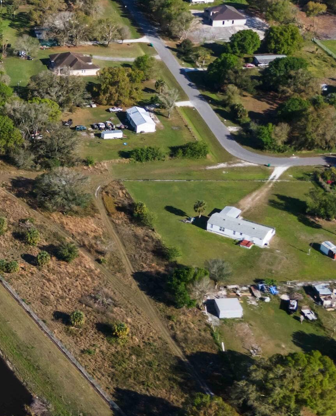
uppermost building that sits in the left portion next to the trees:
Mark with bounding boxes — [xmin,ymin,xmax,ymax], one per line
[51,52,100,75]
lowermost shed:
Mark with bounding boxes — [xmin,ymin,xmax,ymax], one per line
[212,292,244,318]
